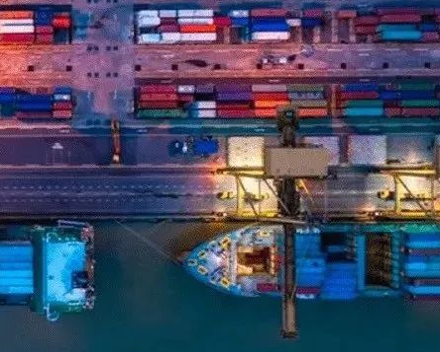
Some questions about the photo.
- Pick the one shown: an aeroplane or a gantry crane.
gantry crane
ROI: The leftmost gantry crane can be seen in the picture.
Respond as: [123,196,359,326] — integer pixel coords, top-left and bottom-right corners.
[216,108,330,342]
